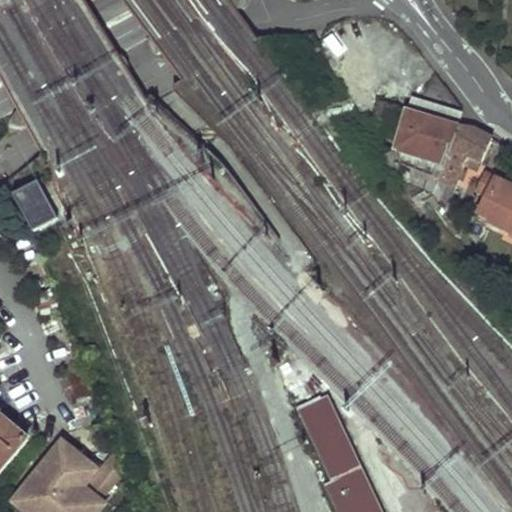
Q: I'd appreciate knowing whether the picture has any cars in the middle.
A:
No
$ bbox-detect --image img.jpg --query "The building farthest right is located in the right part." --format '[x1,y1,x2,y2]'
[468,168,512,250]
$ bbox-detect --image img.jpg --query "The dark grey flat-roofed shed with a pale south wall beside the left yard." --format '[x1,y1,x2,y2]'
[11,178,60,230]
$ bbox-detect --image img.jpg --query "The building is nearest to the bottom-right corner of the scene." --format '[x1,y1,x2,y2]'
[296,394,382,512]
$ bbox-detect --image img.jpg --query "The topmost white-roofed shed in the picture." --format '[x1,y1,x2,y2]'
[322,32,348,60]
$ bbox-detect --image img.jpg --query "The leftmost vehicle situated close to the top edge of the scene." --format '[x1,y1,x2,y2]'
[349,20,364,39]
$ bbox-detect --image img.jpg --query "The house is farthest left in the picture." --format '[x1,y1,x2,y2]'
[0,410,30,480]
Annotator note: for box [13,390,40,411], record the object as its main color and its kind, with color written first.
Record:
white vehicle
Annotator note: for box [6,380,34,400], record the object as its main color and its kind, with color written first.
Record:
white vehicle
